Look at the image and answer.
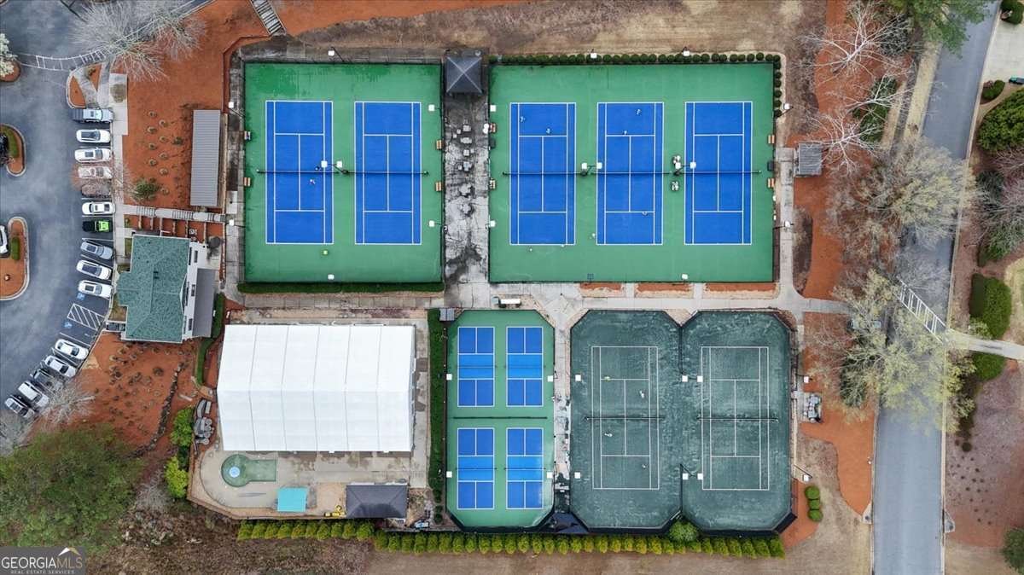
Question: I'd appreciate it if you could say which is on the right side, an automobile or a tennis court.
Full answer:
There is a tennis court on the right side.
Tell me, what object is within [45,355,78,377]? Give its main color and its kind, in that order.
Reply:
white car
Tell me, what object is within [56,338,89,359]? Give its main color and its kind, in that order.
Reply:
white car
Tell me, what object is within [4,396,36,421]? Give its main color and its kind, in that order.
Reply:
gray car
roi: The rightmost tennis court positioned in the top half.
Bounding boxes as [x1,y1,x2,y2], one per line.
[674,65,773,282]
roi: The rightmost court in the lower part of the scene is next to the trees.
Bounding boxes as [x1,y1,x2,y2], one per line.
[681,312,792,529]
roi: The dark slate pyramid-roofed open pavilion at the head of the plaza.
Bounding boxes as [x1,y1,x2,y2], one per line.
[446,52,483,96]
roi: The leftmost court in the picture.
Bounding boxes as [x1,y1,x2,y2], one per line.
[245,64,344,282]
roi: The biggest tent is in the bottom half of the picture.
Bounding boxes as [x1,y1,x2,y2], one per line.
[215,323,418,451]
